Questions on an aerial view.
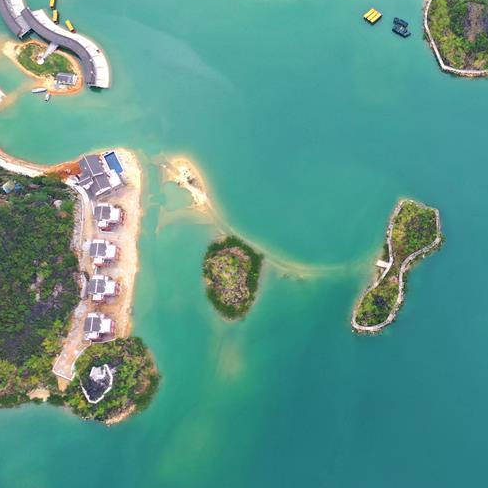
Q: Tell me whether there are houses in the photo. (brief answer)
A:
Yes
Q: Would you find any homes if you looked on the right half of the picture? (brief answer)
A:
No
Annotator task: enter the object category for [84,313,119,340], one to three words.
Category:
house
